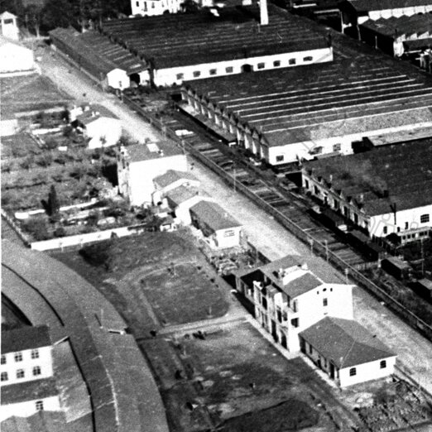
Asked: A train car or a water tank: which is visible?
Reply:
train car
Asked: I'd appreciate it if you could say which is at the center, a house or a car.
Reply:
house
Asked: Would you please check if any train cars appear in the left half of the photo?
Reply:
No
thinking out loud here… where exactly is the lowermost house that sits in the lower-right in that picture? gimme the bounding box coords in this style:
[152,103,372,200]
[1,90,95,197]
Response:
[301,329,399,387]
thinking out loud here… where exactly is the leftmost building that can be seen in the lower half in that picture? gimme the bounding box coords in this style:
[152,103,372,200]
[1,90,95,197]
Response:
[0,327,52,383]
